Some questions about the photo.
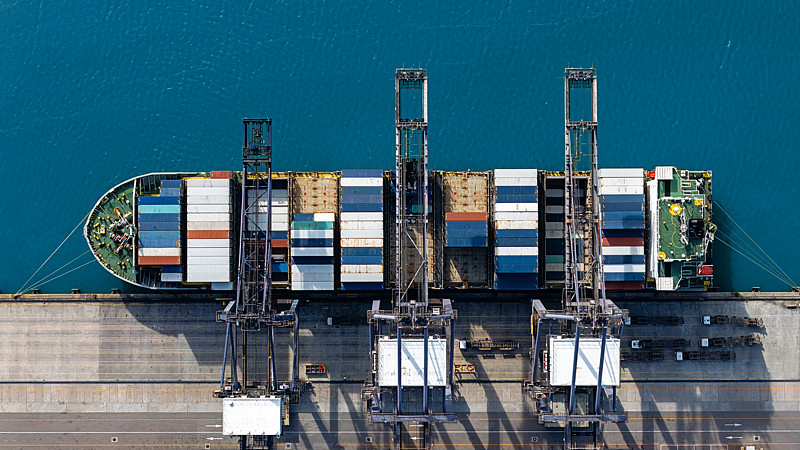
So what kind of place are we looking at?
port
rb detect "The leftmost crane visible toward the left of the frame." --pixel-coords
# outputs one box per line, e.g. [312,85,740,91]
[212,116,318,450]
